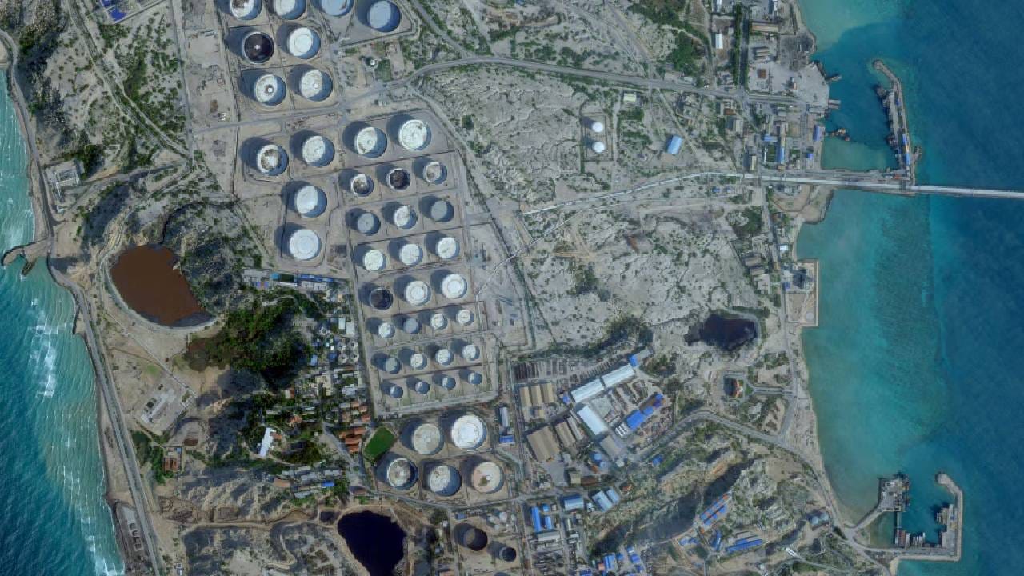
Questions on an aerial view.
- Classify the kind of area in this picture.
port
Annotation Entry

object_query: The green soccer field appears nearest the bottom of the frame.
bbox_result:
[362,424,397,458]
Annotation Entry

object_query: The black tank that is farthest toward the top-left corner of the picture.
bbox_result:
[242,31,275,64]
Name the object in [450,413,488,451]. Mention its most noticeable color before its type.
white storage tank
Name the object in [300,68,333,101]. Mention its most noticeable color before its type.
white storage tank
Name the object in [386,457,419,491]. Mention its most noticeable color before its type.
gray storage tank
